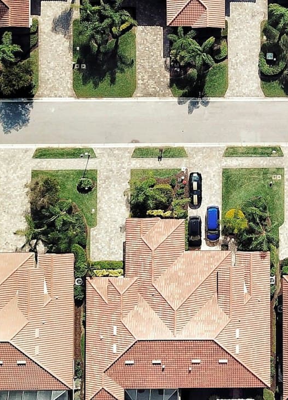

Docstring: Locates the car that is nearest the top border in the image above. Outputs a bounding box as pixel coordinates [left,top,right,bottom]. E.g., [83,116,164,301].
[187,171,202,206]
